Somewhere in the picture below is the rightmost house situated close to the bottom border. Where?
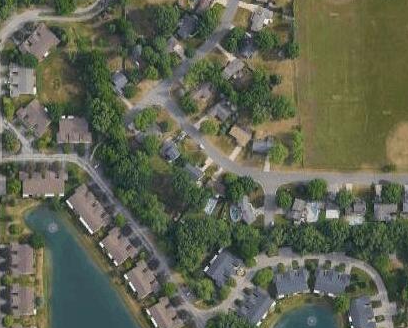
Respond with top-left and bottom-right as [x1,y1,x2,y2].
[348,295,378,328]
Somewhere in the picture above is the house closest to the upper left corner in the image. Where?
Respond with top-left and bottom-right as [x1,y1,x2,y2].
[20,22,60,62]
